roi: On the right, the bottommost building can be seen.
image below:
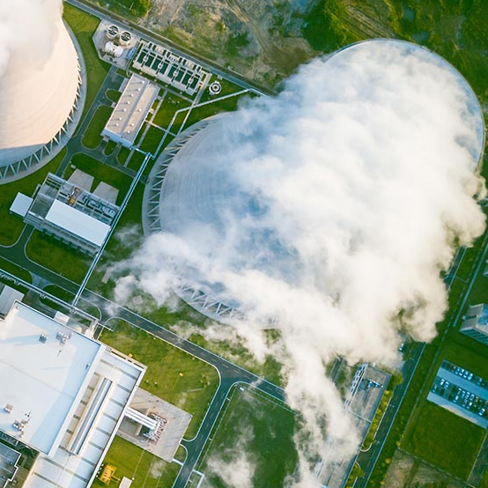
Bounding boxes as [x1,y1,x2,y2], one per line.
[303,359,390,488]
